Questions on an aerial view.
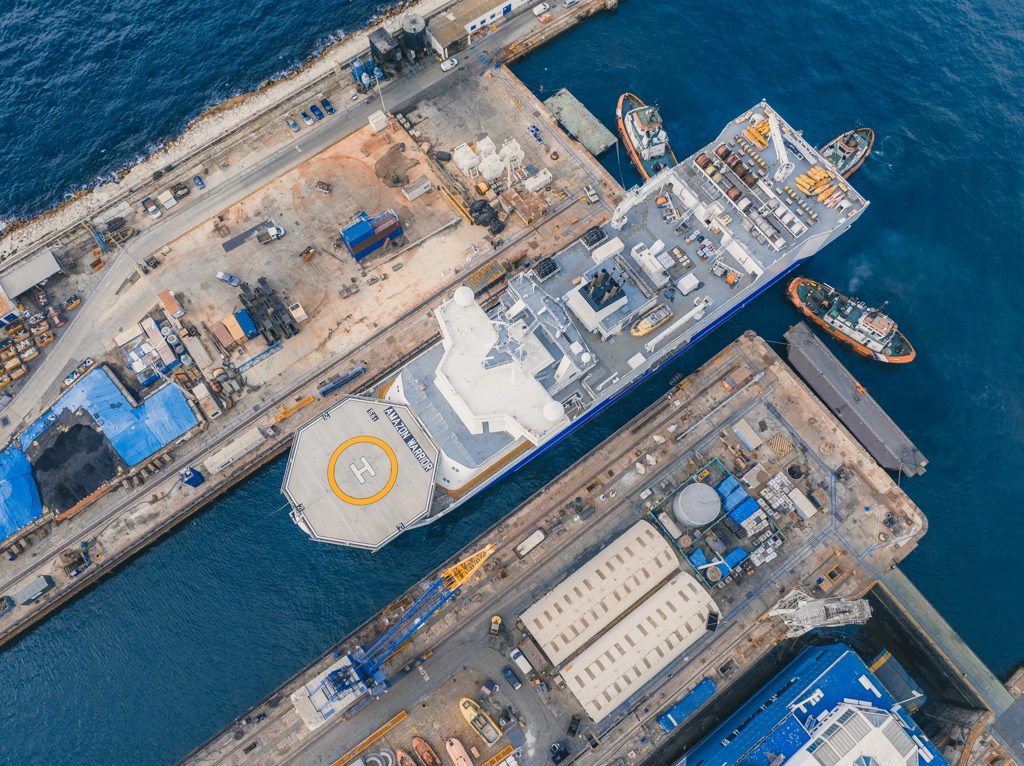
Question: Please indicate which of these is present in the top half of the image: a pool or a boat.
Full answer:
There is a boat in the top half of the image.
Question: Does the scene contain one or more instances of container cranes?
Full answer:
Yes, the photo shows a container crane.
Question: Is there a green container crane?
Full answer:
No, no green container crane can be seen from above.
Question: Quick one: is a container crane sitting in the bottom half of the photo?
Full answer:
Yes, a container crane appears in the bottom half of the photo.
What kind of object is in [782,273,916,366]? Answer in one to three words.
boat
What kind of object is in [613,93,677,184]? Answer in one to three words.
boat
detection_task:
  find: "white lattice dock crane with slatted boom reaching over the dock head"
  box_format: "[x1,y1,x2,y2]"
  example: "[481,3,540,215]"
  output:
[757,589,871,644]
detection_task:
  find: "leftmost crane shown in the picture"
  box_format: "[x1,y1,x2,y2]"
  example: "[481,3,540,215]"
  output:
[290,541,499,731]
